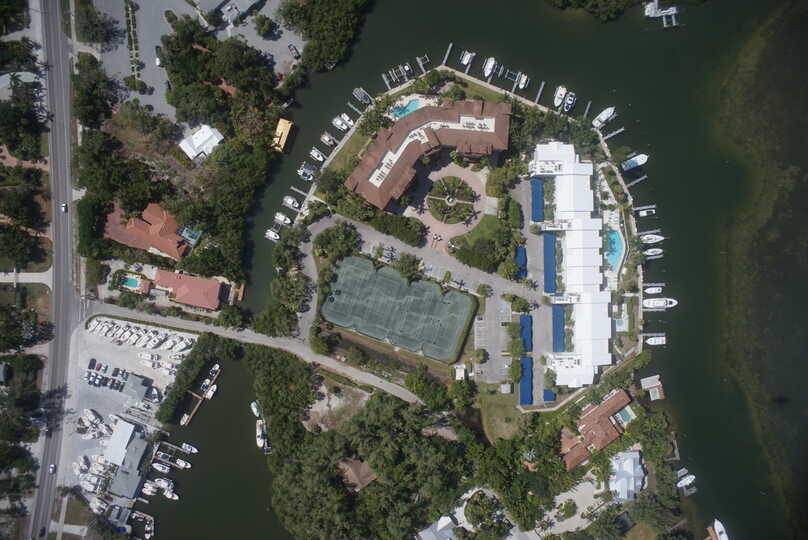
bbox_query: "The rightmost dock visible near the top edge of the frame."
[645,0,678,28]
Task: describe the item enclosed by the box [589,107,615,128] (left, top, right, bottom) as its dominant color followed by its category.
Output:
white boat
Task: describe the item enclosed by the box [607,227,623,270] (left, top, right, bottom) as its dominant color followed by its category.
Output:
blue swimming pool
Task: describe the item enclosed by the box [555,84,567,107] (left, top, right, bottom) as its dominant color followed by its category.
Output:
white boat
